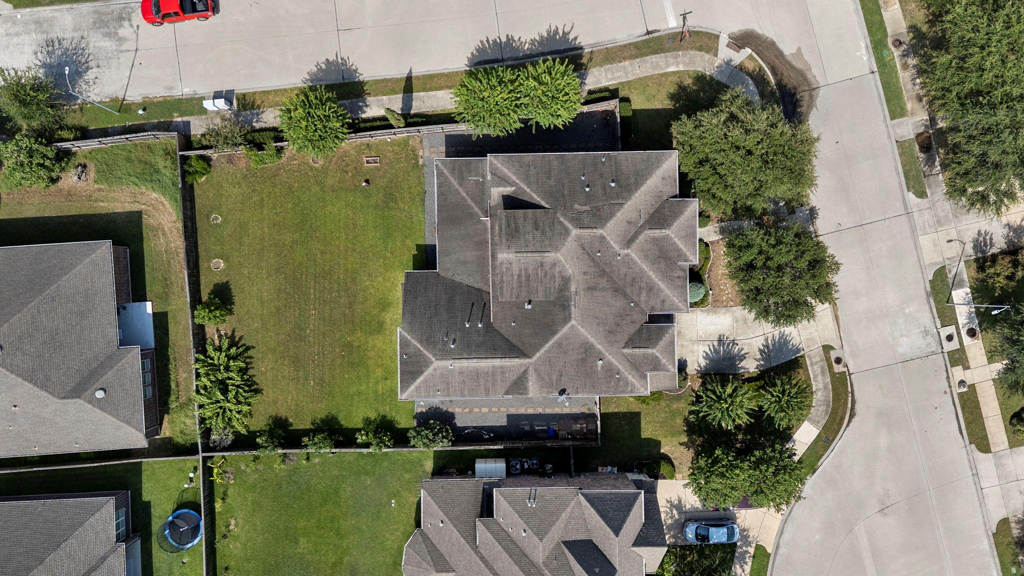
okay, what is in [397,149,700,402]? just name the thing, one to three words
house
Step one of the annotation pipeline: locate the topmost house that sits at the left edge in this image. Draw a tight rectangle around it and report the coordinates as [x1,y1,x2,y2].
[0,239,166,458]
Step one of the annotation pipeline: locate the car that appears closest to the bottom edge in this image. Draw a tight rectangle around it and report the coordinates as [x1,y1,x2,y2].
[682,518,739,545]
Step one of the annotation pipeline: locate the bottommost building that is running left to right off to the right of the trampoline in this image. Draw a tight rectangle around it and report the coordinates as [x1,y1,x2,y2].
[401,467,668,576]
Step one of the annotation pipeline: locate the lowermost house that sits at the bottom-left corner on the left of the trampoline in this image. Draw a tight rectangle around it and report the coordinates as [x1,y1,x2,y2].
[0,489,135,576]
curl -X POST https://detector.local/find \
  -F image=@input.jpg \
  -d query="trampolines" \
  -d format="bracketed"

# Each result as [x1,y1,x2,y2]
[154,507,203,554]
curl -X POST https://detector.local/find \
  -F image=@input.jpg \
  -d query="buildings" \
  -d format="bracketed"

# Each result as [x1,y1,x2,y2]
[401,467,668,576]
[397,149,700,402]
[0,489,135,576]
[0,239,166,458]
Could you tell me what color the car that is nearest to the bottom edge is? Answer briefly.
blue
